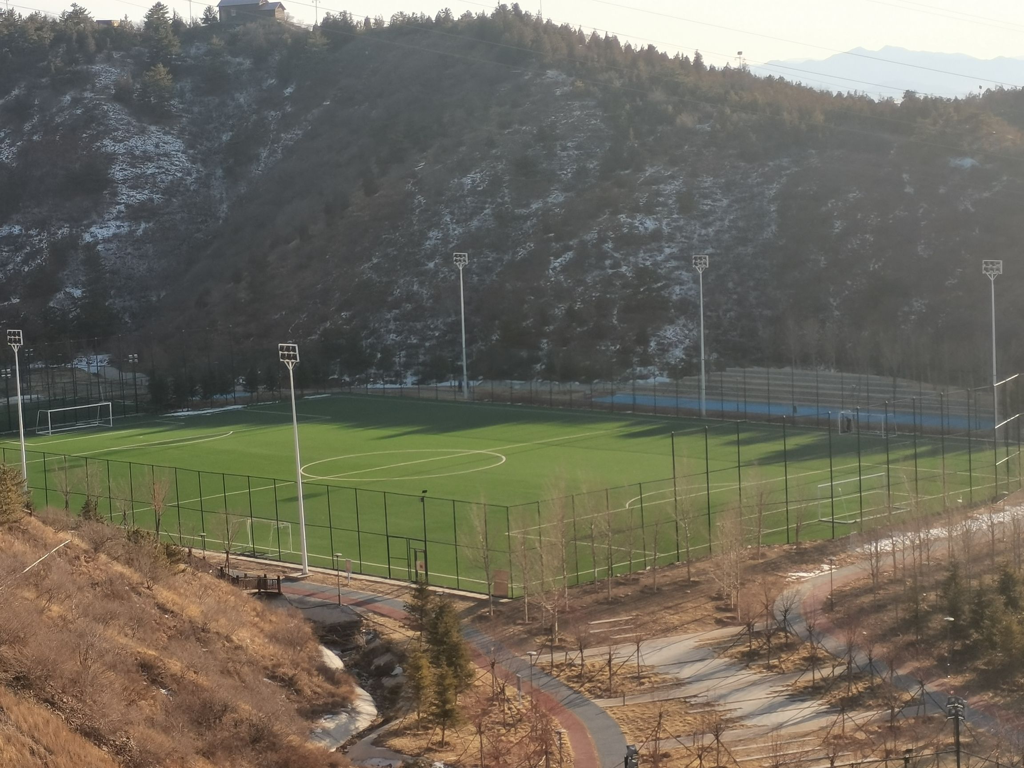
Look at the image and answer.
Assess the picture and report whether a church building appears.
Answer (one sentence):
No, I can see no church building in this picture.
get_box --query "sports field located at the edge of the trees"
[0,392,1024,597]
